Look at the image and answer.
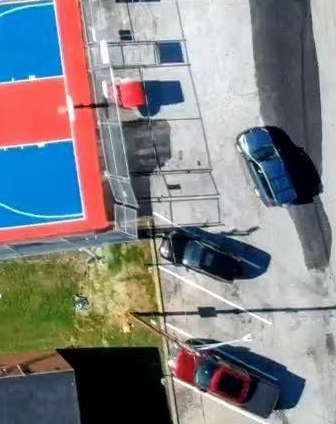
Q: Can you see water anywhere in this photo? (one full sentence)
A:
No, the picture contains no water.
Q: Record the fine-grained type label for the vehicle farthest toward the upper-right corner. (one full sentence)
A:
The vehicle farthest toward the upper-right corner appears to be an automobile.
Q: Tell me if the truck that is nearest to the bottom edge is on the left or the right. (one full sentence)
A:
The truck that is nearest to the bottom edge sits on the right side.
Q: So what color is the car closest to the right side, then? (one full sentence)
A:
The car closest to the right side looks blue in the image.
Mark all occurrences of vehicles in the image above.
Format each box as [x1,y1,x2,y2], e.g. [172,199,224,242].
[234,129,296,214]
[171,349,279,413]
[160,235,248,288]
